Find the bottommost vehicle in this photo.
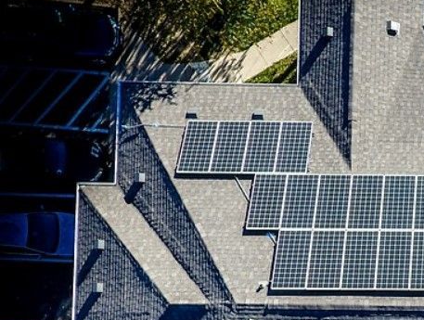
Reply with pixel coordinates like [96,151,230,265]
[0,204,76,260]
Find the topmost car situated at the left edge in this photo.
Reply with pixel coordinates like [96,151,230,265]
[0,0,122,60]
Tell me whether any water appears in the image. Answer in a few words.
No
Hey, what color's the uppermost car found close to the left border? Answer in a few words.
black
